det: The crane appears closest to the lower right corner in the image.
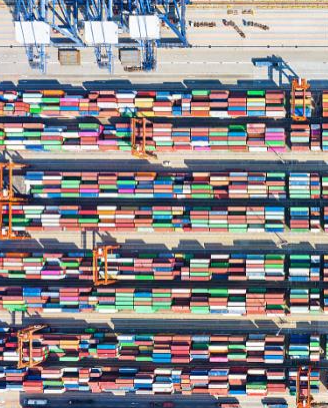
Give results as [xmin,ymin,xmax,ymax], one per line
[295,360,315,408]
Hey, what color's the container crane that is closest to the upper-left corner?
white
